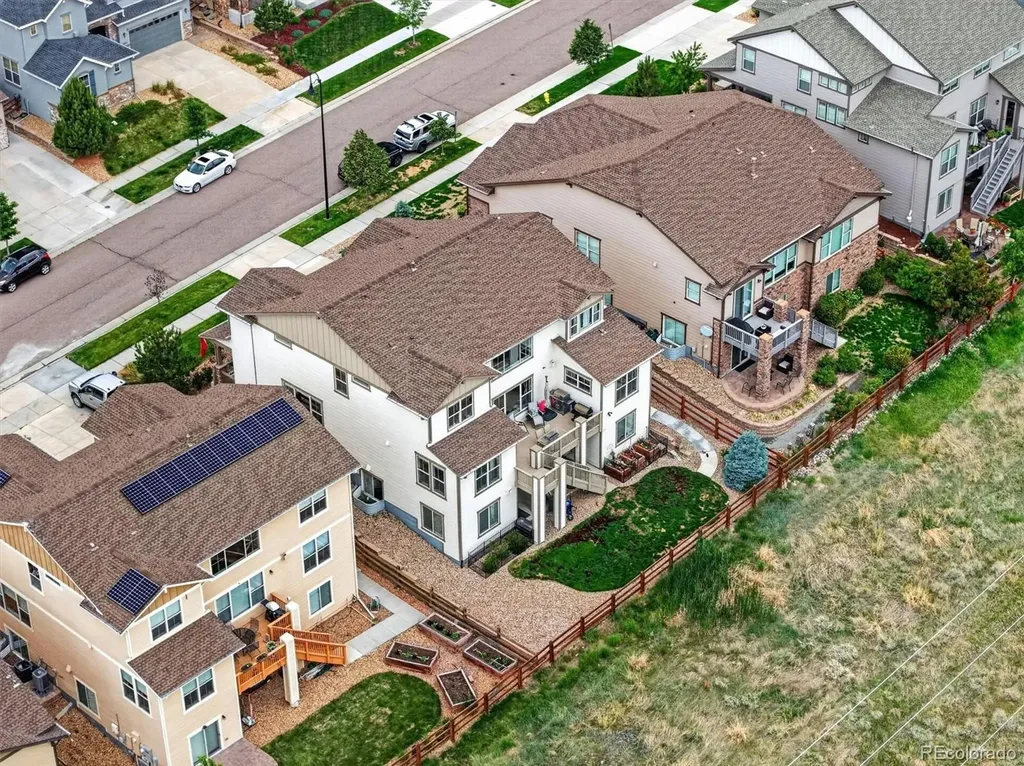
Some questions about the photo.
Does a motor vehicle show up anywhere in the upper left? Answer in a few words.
Yes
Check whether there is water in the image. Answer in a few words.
No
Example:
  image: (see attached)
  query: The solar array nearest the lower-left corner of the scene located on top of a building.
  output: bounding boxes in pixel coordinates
[106,566,159,614]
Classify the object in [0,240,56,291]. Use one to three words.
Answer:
car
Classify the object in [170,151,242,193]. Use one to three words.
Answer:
car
